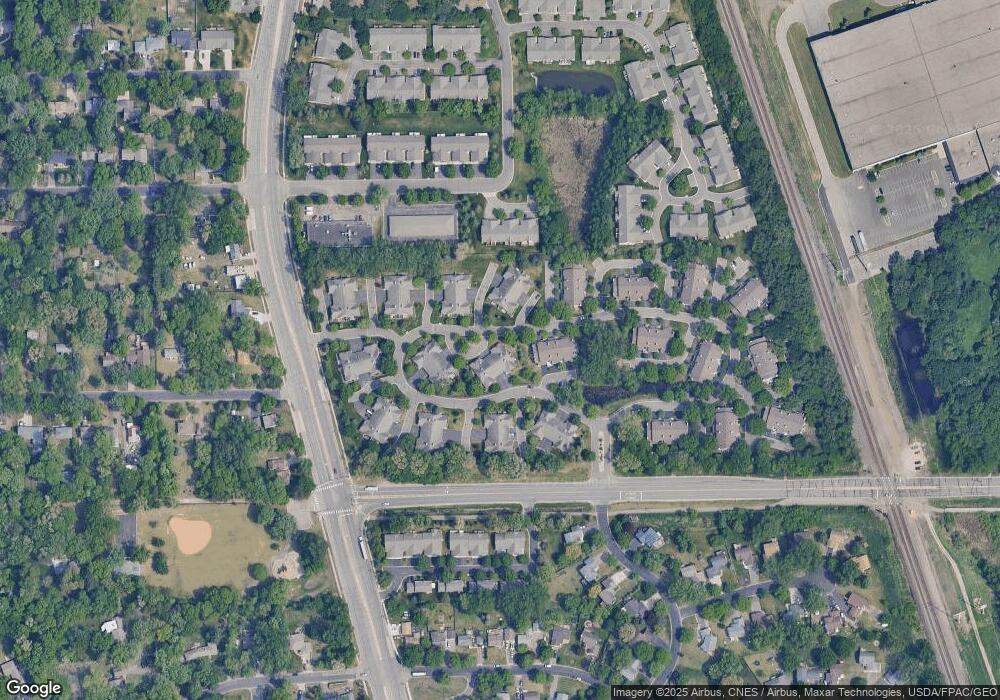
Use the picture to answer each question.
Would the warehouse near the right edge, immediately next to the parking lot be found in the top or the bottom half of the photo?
top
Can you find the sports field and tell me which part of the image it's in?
bottom left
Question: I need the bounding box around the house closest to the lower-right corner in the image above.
[882,670,909,692]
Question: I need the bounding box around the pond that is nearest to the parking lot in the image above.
[893,311,938,419]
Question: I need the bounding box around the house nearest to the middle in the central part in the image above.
[468,339,518,390]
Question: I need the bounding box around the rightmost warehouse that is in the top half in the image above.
[810,0,1000,182]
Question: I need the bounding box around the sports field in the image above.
[141,504,271,590]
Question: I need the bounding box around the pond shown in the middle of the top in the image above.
[536,70,616,97]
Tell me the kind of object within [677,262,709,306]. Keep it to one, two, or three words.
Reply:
house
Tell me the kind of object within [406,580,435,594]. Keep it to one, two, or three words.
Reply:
building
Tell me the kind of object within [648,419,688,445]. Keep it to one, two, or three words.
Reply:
house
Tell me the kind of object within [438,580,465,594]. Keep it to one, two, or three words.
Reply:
building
